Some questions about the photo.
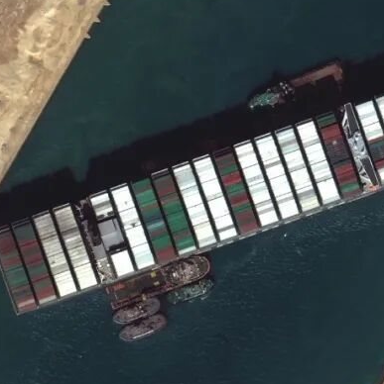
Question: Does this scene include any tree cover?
No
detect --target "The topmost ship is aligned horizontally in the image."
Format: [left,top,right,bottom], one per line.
[290,63,341,87]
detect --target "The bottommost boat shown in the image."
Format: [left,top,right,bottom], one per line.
[118,316,166,342]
